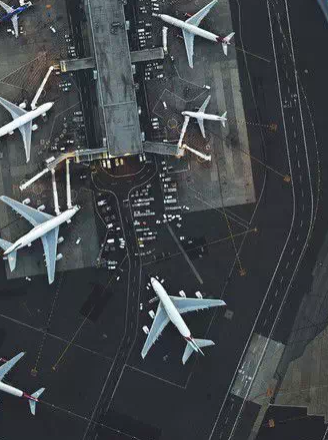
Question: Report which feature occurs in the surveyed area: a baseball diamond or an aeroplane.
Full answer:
It is an aeroplane that can be seen here.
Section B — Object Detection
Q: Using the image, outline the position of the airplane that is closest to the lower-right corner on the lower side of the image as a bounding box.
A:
[141,278,227,360]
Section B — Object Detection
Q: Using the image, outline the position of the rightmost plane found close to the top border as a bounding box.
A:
[159,0,234,67]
